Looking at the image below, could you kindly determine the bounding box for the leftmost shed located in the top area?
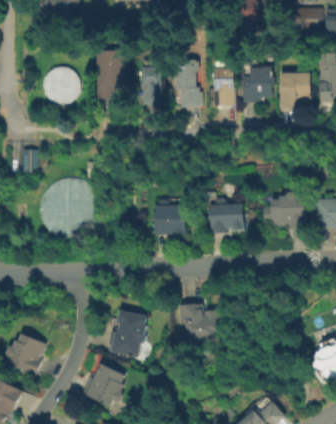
[23,147,39,174]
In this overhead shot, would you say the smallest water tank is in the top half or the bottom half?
top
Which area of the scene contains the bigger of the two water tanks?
left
